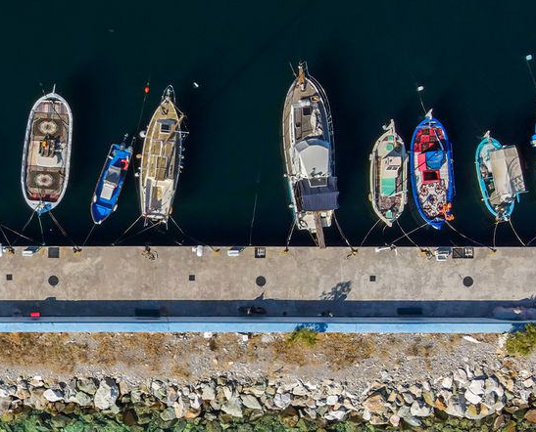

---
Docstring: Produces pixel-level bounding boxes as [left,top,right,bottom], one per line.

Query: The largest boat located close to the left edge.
[1,85,75,252]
